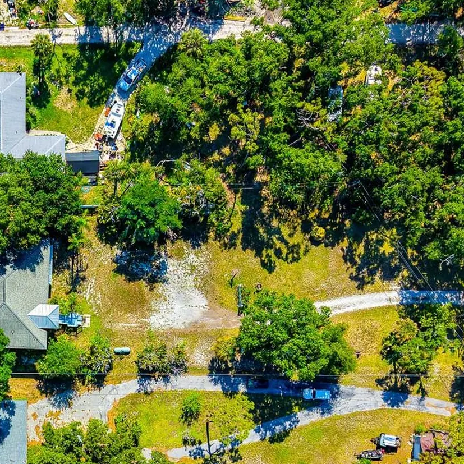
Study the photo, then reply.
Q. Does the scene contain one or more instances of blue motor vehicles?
Yes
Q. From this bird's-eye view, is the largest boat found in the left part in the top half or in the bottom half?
top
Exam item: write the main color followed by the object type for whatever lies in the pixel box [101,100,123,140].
white boat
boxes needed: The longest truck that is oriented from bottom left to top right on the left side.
[119,60,143,93]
